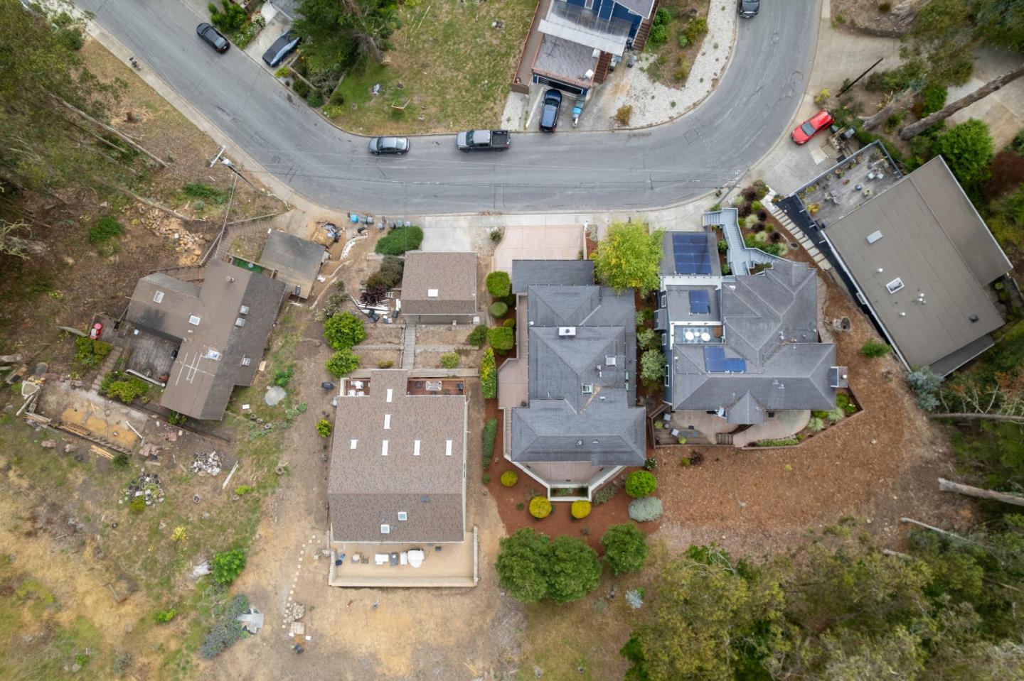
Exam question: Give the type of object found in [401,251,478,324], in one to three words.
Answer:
building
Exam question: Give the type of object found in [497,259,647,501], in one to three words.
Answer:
house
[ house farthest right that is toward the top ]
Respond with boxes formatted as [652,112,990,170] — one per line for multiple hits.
[783,139,1015,378]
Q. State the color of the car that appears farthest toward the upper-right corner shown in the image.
red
